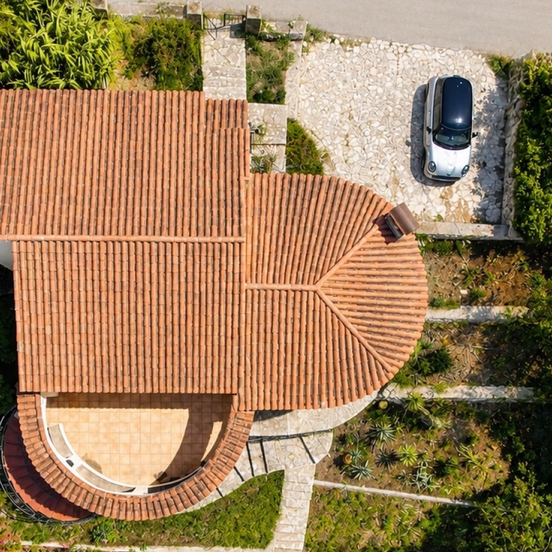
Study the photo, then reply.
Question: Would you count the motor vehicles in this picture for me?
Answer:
1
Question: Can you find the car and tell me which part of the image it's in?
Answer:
top right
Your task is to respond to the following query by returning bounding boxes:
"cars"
[421,67,486,183]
